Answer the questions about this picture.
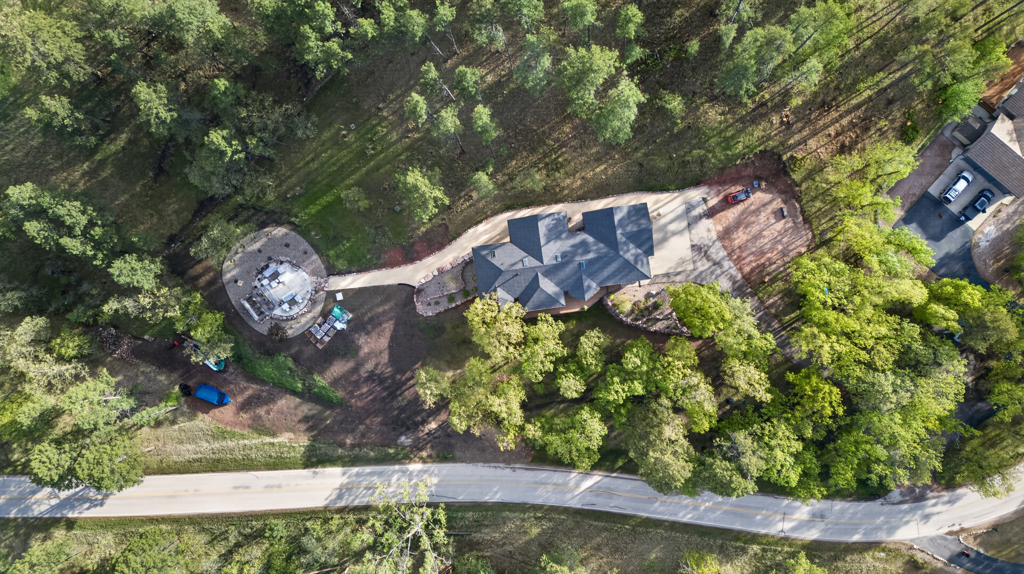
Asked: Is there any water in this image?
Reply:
No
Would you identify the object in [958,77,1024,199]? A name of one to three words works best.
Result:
house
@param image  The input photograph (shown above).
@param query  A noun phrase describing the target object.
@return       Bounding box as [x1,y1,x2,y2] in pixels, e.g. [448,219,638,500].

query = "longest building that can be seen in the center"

[471,202,654,318]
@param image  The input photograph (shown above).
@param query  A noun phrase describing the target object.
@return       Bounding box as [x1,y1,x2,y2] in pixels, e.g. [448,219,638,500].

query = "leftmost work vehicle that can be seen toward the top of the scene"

[724,187,753,207]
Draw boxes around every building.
[958,77,1024,199]
[471,202,654,318]
[949,116,986,146]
